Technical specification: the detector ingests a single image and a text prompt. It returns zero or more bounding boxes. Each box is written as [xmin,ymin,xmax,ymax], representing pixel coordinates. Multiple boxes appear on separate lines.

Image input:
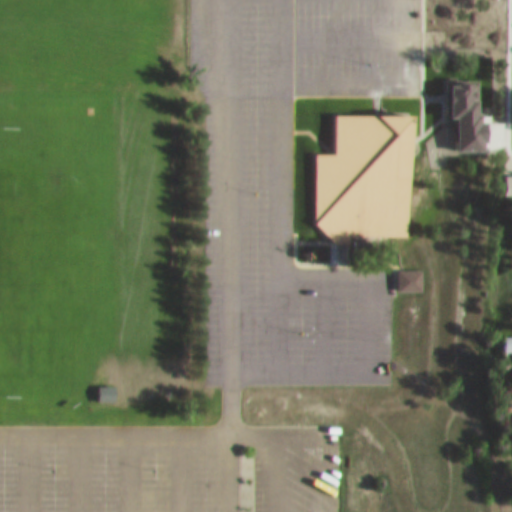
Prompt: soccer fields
[0,128,100,398]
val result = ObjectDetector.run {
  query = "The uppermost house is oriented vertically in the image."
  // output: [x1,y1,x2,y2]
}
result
[452,81,491,152]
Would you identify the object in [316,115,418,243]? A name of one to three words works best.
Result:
building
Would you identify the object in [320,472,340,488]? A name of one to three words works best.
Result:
vehicle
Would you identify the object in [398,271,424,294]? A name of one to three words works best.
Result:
building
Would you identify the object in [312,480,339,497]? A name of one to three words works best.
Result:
vehicle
